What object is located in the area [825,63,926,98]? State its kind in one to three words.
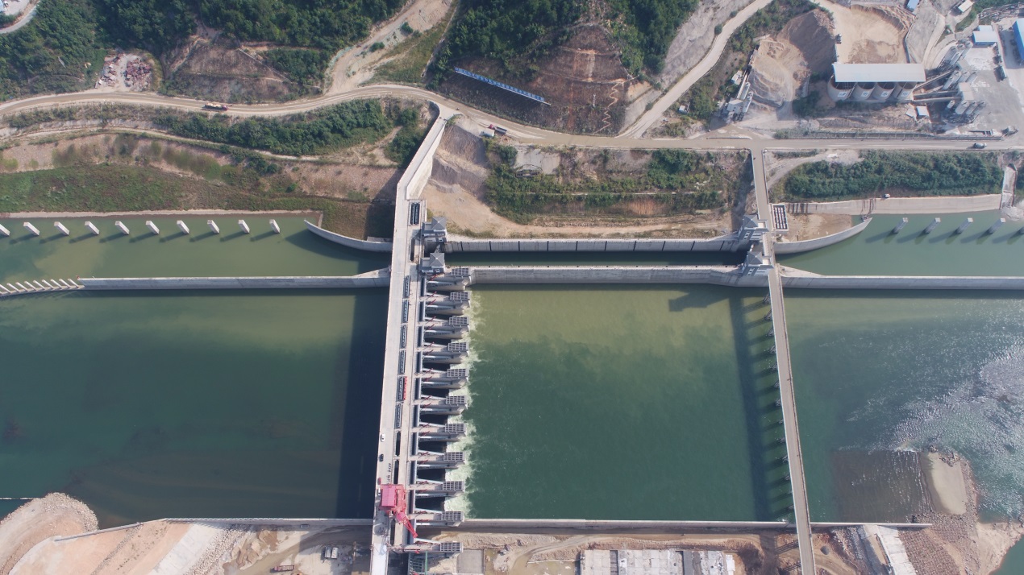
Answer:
house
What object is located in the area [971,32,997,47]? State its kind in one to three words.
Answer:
shed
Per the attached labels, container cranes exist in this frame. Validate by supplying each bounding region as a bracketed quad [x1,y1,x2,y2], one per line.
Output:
[380,483,418,539]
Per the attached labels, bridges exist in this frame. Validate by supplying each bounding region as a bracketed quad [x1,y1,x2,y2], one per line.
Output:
[751,148,819,575]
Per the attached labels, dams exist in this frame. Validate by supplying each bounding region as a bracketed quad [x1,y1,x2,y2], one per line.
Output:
[368,197,470,575]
